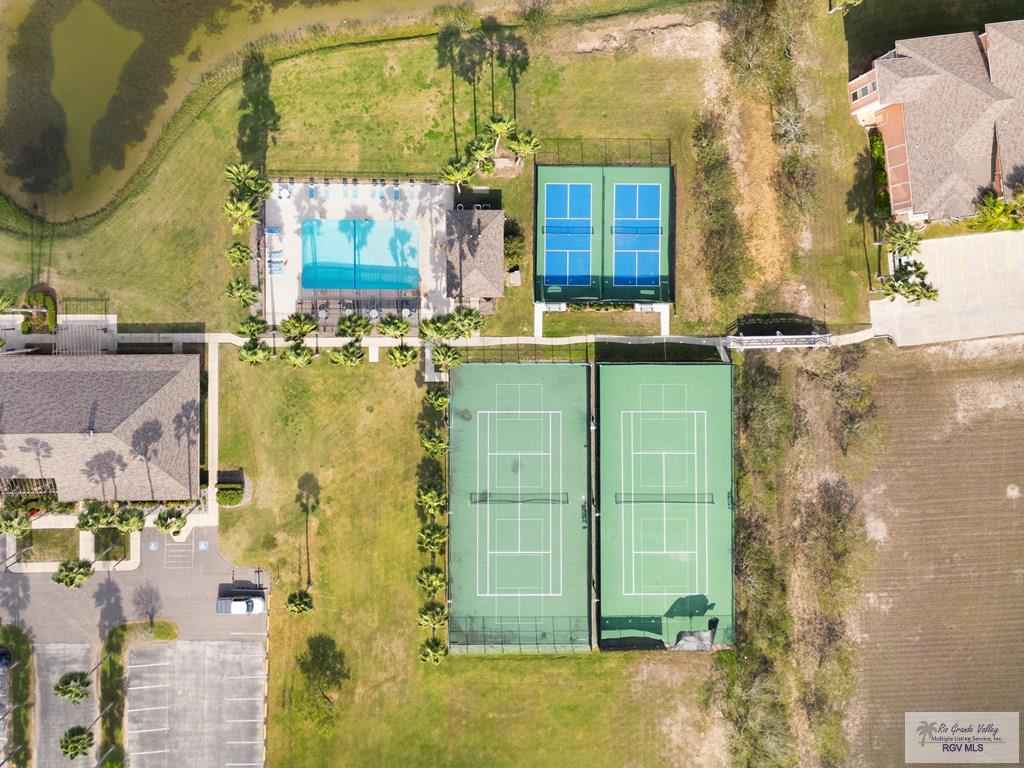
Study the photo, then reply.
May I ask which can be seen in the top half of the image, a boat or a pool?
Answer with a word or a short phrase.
pool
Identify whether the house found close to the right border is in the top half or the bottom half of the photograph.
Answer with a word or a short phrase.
top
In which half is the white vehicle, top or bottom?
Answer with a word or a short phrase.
bottom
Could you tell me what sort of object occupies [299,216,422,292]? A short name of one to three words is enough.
swimming pool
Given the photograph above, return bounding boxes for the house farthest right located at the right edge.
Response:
[852,19,1024,223]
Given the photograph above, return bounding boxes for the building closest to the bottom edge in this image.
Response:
[0,354,201,500]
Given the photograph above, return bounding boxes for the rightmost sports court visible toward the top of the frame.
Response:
[604,164,671,299]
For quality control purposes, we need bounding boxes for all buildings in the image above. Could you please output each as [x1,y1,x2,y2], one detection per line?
[852,19,1024,223]
[447,210,504,298]
[0,354,201,500]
